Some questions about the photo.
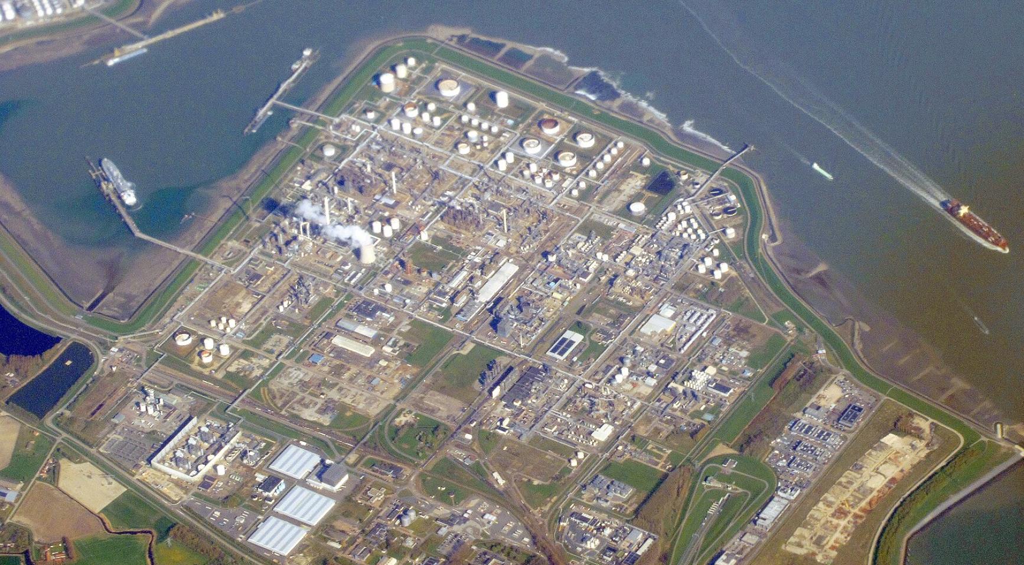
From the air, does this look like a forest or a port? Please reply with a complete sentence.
This image shows a port.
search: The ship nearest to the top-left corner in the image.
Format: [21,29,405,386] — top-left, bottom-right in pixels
[108,51,147,65]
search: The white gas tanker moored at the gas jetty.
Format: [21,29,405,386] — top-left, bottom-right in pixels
[99,158,141,207]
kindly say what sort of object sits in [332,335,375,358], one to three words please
building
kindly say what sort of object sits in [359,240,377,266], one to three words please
cooling tower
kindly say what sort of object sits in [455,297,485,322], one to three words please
building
